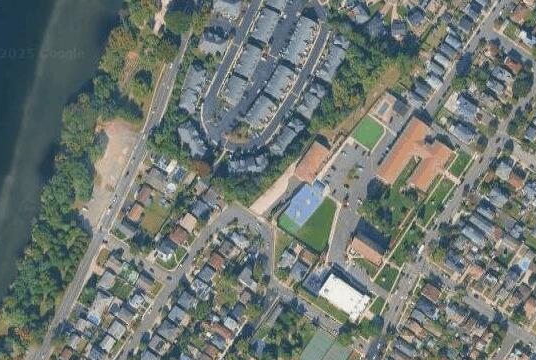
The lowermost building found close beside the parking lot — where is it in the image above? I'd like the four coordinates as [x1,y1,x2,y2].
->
[318,273,370,323]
